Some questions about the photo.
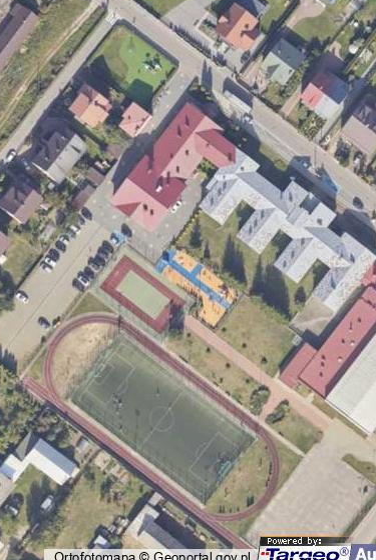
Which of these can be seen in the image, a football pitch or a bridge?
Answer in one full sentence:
Of the two, only a football pitch appears.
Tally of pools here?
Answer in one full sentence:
The count of pools is 0.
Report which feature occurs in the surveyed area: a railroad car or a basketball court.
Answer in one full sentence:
The image shows a basketball court.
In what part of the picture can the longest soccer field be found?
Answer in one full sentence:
The longest soccer field sits in the bottom section of the image.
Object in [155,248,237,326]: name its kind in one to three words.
playground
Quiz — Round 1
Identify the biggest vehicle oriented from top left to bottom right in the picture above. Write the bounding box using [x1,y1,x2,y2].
[225,90,258,116]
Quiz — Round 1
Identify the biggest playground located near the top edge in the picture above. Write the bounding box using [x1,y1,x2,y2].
[119,27,178,96]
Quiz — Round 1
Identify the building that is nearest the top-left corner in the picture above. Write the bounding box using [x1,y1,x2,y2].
[0,4,40,72]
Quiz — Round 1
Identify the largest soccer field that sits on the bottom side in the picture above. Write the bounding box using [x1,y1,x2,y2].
[70,326,259,506]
